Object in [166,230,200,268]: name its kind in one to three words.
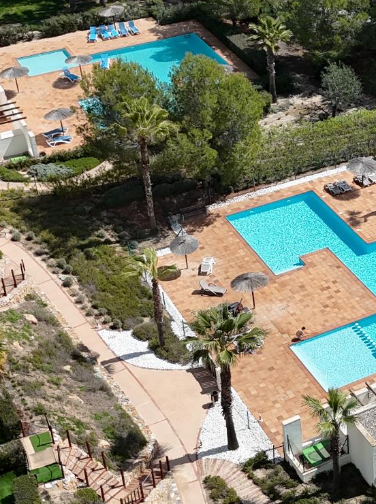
umbrella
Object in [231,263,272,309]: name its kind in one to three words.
umbrella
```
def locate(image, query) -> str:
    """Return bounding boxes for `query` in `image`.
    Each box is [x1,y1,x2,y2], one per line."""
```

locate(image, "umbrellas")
[62,50,92,78]
[231,263,272,309]
[166,230,200,268]
[346,154,376,188]
[96,2,125,20]
[0,63,28,91]
[42,103,71,130]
